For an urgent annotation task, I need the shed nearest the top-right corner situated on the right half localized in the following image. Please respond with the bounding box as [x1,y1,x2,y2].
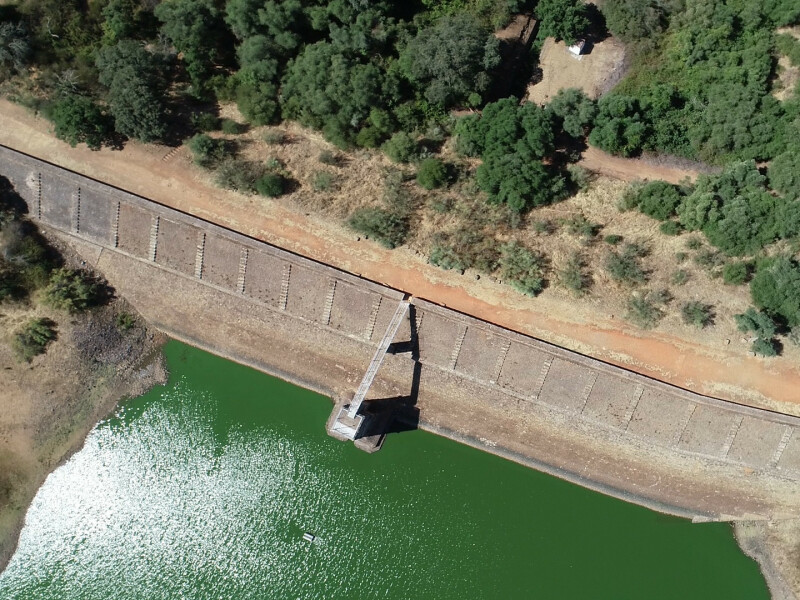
[566,34,588,62]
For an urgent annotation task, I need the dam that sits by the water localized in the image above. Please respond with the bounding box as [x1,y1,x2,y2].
[0,147,800,529]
